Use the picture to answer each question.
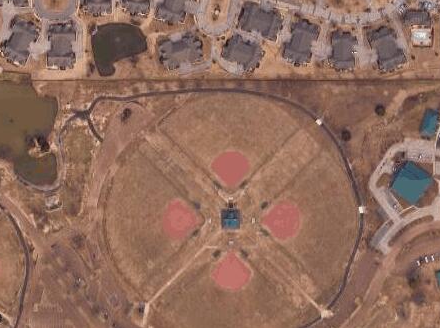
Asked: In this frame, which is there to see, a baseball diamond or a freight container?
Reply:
baseball diamond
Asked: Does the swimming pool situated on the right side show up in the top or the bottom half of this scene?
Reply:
top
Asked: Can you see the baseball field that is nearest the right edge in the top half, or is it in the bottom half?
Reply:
bottom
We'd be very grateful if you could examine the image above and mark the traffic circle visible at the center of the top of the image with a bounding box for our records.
[194,0,236,41]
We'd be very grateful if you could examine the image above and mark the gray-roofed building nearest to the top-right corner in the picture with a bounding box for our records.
[405,11,430,24]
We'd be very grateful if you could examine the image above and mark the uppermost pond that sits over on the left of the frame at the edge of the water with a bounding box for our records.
[93,23,146,74]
